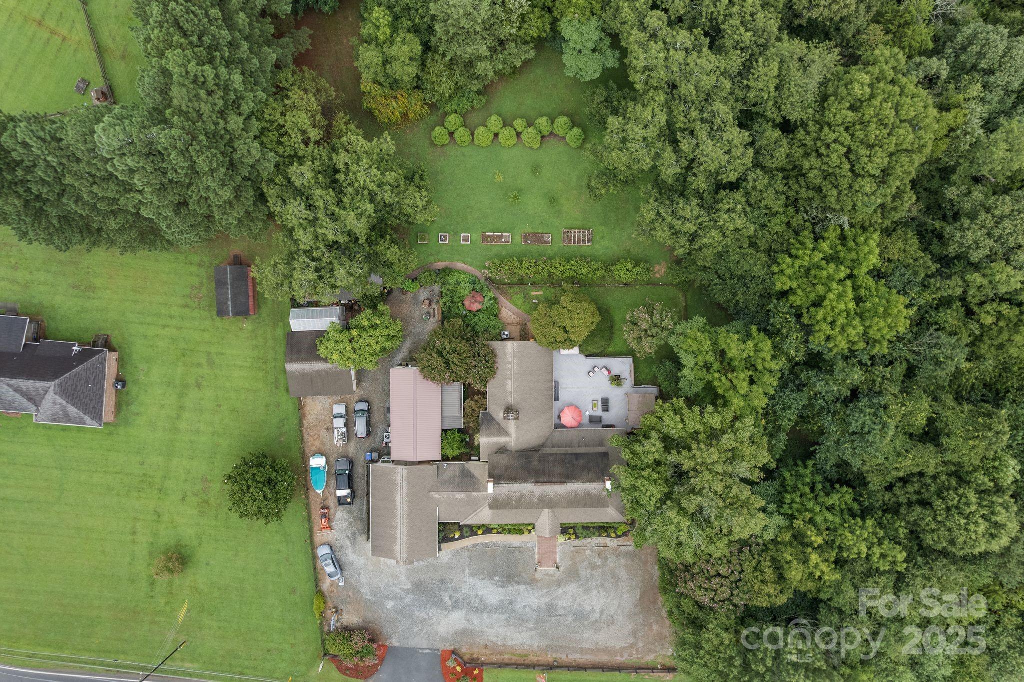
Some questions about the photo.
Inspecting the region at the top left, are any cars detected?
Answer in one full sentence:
No, at the top left there is no car.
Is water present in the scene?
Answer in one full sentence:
No, there's no water in this view.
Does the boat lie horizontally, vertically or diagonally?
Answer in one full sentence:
The boat runs vertically in the image.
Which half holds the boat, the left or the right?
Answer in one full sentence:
It is on the left.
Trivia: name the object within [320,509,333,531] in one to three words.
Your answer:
vehicle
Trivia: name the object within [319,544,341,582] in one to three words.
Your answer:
car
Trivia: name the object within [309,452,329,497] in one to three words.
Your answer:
boat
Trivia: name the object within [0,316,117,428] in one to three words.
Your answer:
house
